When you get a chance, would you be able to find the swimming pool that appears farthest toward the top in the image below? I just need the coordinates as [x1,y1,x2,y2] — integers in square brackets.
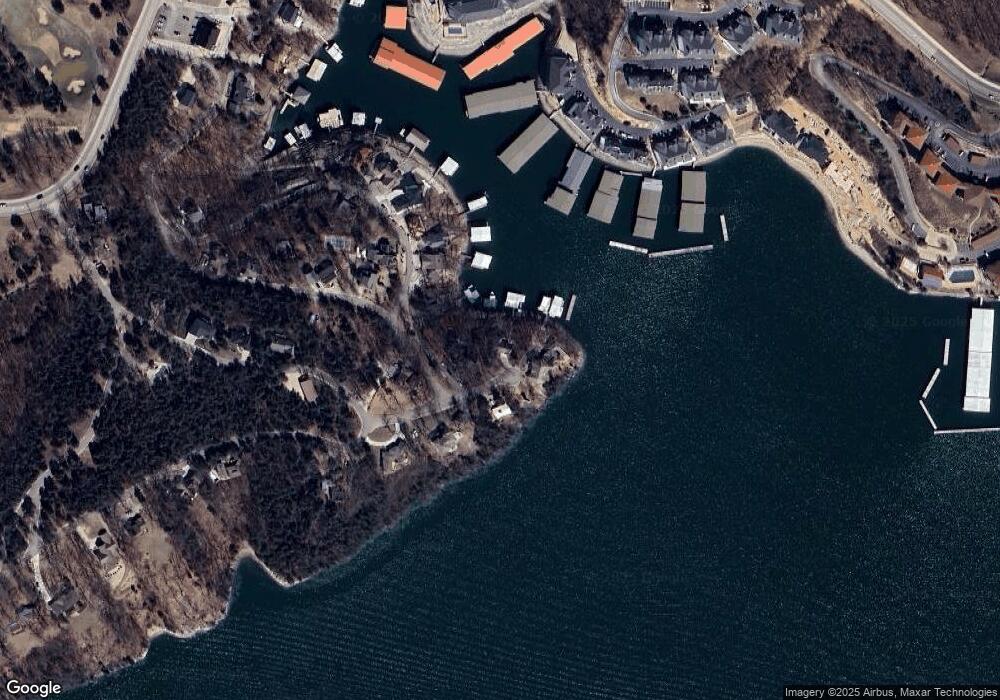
[444,22,466,37]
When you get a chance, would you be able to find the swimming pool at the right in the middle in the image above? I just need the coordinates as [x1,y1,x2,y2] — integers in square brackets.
[947,269,978,285]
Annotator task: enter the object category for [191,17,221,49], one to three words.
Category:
building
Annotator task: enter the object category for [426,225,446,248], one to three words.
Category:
house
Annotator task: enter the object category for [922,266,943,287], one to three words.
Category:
building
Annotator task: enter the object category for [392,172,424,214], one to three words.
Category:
house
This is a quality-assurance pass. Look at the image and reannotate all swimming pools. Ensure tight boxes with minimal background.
[444,22,466,37]
[947,269,978,285]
